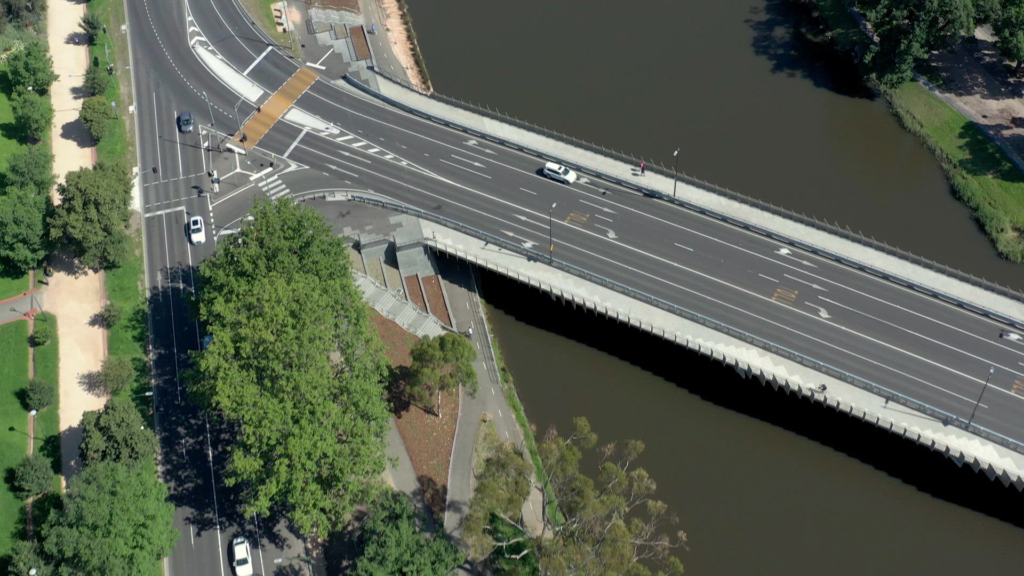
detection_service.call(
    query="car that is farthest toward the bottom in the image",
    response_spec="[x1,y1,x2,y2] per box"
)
[232,536,253,576]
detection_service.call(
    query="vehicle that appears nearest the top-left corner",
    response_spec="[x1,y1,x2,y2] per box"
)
[178,109,193,131]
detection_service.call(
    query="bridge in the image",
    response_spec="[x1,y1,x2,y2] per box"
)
[375,69,1024,486]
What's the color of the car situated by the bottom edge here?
white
